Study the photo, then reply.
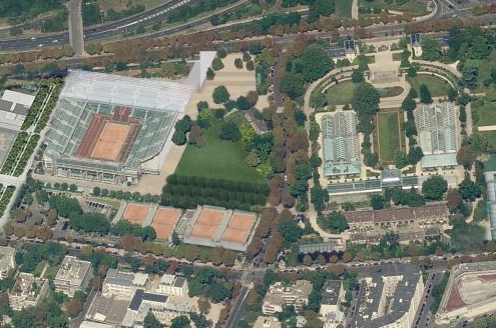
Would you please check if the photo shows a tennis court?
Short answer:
Yes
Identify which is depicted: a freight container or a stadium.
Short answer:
stadium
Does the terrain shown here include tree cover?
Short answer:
Yes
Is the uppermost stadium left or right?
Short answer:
left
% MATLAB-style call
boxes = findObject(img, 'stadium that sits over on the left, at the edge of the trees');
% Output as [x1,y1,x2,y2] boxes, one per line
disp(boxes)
[43,68,201,187]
